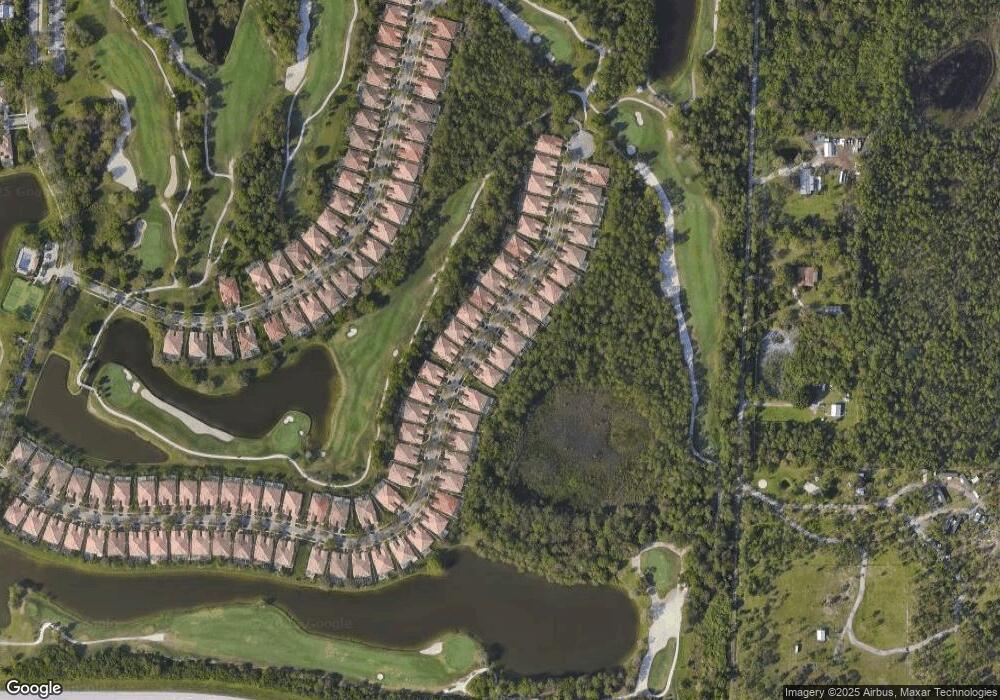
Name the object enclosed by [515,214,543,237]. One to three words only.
house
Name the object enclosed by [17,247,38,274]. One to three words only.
swimming pool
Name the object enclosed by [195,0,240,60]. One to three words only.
pond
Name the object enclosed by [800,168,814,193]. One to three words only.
barn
